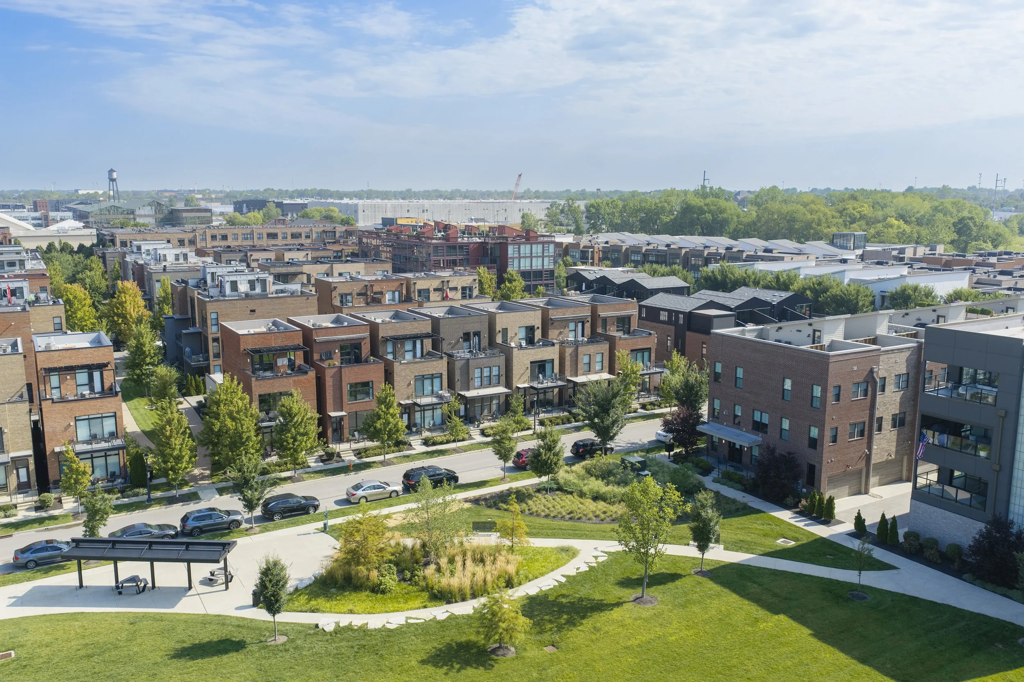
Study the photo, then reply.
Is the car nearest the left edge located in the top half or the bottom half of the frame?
bottom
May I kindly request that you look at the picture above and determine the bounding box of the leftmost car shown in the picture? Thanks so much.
[13,538,76,569]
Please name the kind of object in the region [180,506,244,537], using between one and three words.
car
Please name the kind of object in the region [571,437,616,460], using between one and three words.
car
